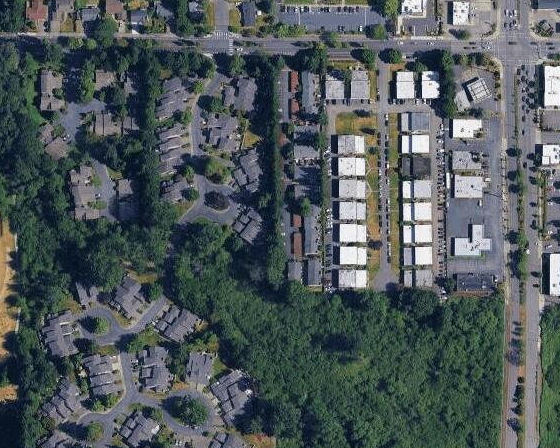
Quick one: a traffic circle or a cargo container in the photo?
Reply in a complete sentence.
It is a traffic circle that can be seen here.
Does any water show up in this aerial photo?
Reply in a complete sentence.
No, the scene doesn't show any water.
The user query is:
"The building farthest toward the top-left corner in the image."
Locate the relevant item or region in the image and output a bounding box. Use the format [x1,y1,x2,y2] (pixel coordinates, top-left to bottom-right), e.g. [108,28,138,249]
[26,0,48,20]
